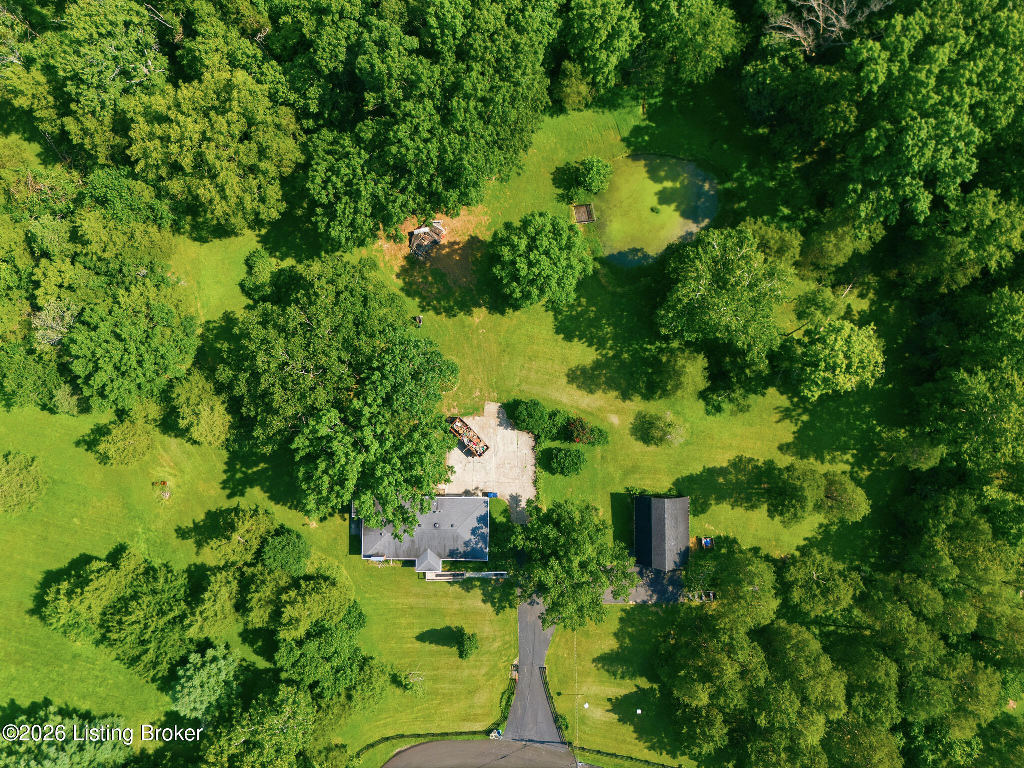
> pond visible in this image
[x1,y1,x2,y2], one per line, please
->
[595,154,721,267]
